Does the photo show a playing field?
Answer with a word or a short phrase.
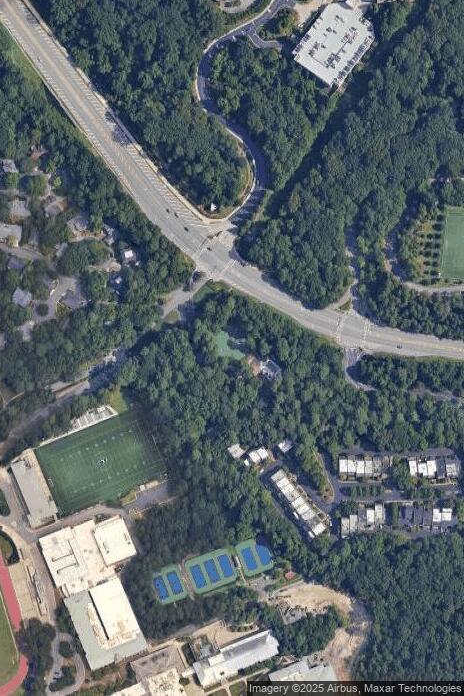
Yes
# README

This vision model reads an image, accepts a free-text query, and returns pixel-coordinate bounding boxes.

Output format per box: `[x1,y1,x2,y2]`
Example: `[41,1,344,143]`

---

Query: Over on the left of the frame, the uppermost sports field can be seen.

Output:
[34,405,168,519]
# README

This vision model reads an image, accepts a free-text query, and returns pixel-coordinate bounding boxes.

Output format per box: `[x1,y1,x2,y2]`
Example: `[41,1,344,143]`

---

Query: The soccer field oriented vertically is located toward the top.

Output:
[443,209,464,283]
